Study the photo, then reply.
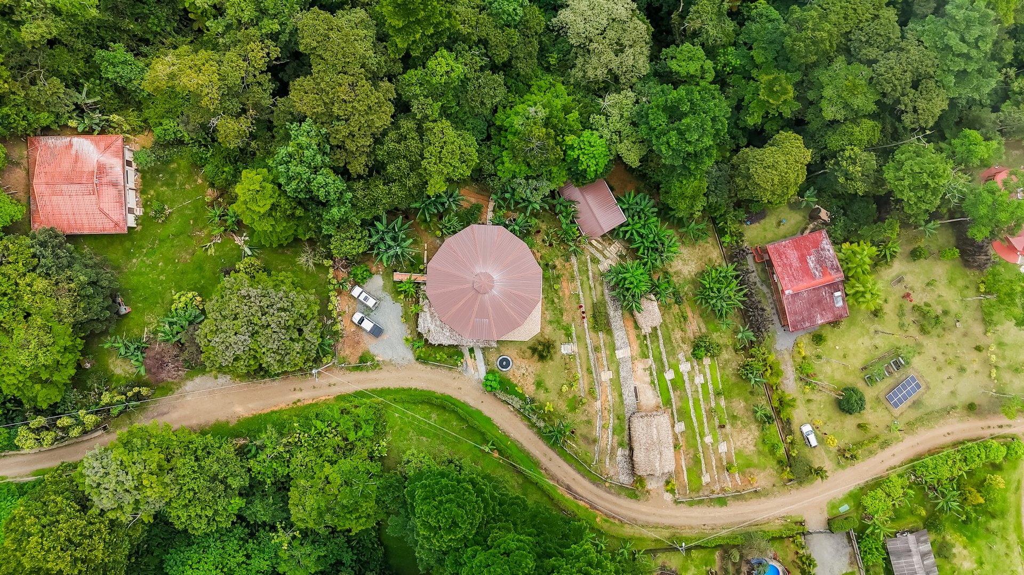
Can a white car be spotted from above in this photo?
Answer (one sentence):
Yes, the photo shows a white car.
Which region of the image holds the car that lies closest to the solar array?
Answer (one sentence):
The car that lies closest to the solar array is in the bottom right part of the image.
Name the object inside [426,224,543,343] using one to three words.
house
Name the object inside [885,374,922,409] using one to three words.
solar array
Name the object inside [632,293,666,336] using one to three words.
shed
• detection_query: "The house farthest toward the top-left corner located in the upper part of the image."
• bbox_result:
[27,134,140,234]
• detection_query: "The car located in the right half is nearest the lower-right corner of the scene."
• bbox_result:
[799,421,819,450]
